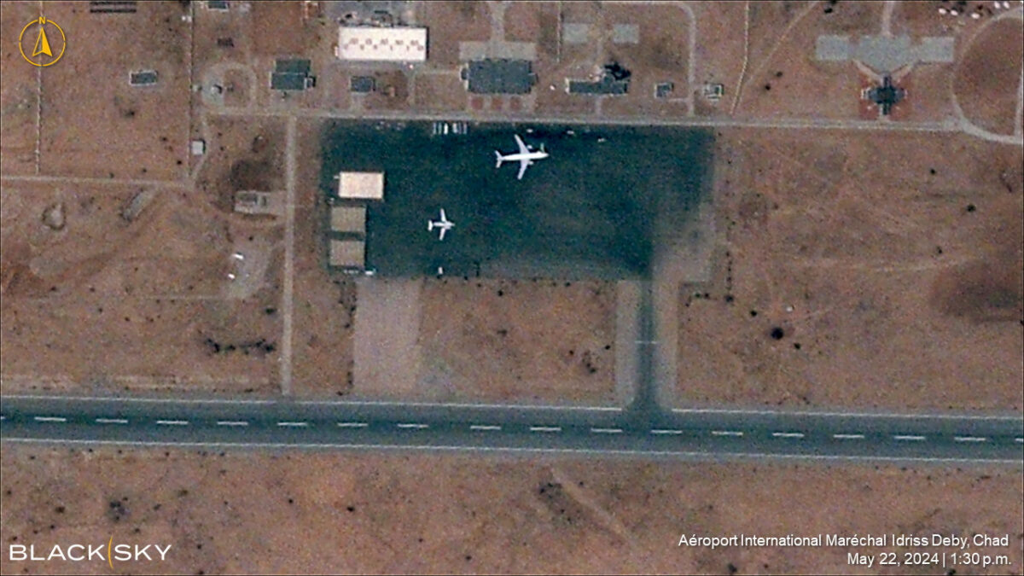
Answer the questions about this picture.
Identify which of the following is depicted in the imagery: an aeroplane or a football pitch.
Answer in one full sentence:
I can see an aeroplane in this picture.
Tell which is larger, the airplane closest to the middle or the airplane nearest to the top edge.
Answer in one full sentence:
The airplane nearest to the top edge takes up more space than the airplane closest to the middle.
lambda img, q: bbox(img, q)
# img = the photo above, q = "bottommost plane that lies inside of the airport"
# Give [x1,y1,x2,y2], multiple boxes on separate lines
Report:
[429,210,455,240]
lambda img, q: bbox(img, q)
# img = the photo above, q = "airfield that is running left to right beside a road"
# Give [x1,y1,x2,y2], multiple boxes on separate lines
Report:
[0,122,1024,475]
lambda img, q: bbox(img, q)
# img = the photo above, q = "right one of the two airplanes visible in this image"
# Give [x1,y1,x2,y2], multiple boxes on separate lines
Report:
[497,136,549,180]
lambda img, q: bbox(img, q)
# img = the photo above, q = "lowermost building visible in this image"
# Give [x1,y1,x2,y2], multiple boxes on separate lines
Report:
[329,240,366,267]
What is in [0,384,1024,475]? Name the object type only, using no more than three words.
runway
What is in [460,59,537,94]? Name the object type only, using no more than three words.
building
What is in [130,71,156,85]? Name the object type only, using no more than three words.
house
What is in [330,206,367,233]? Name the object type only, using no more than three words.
hangar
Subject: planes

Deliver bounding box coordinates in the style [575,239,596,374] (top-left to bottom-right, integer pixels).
[429,210,455,240]
[497,136,549,180]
